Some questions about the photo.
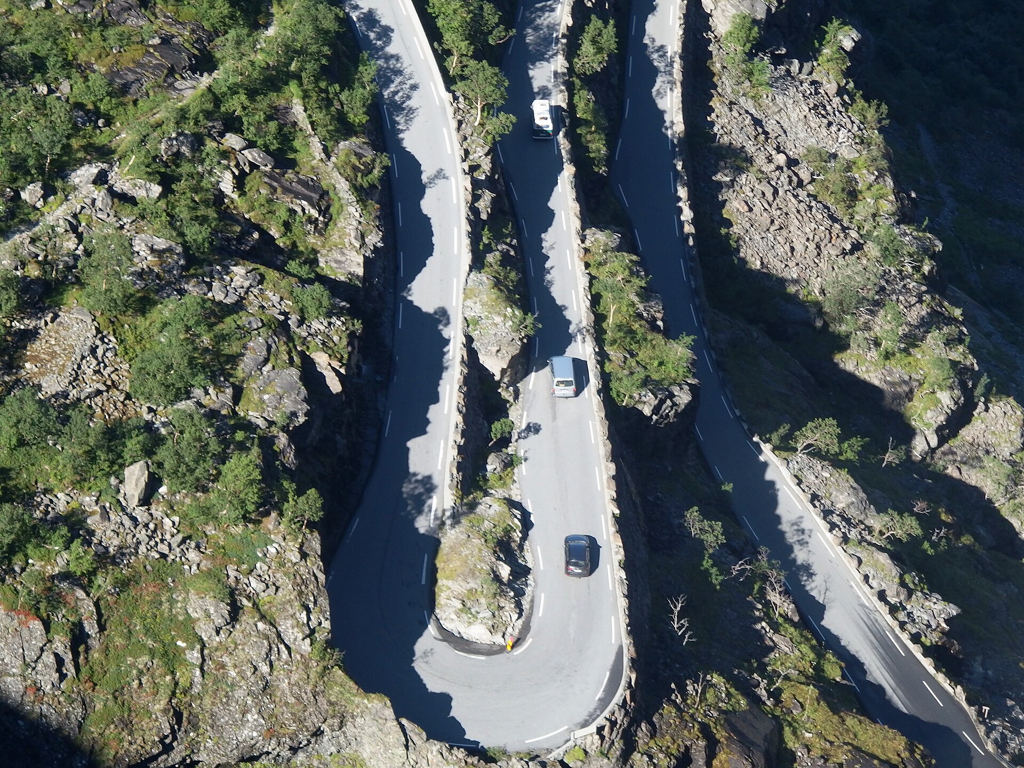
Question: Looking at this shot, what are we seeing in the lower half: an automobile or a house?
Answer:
automobile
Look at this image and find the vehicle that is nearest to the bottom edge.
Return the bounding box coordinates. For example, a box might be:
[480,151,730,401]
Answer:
[559,532,592,573]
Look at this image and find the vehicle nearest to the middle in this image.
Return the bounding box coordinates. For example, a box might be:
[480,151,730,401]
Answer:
[547,353,576,393]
